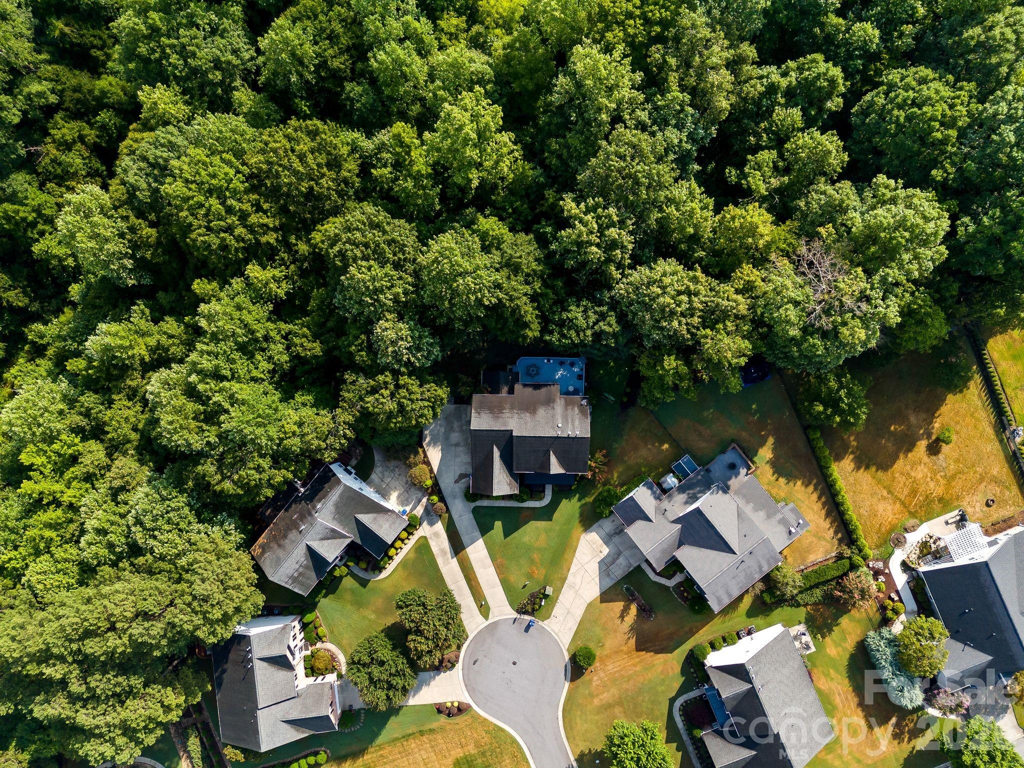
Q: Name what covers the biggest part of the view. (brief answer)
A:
trees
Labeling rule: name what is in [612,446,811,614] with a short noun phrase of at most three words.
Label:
house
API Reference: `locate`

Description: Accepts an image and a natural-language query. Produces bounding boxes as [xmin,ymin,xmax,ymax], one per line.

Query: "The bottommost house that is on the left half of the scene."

[211,614,342,752]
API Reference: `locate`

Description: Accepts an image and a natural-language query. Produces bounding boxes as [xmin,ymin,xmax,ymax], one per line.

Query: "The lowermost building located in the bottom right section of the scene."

[701,624,835,768]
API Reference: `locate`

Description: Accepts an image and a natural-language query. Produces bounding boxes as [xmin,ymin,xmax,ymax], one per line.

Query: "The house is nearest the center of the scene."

[470,354,591,496]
